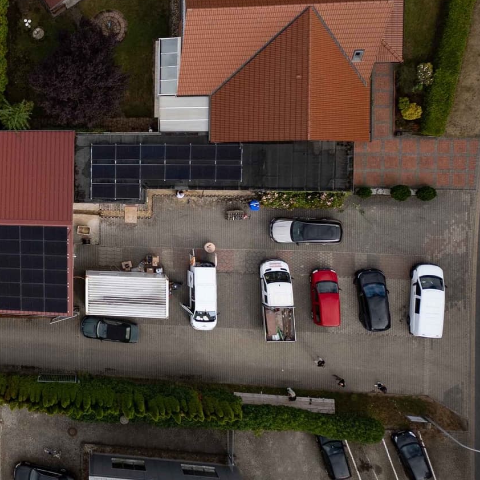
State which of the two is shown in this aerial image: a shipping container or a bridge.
shipping container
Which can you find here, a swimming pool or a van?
van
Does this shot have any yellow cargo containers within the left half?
No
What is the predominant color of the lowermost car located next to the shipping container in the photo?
black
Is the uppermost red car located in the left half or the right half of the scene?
right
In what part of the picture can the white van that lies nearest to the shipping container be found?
center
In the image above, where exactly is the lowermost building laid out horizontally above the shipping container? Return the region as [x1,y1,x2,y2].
[74,131,356,204]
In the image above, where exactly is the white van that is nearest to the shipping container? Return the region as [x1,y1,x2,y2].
[180,249,219,328]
